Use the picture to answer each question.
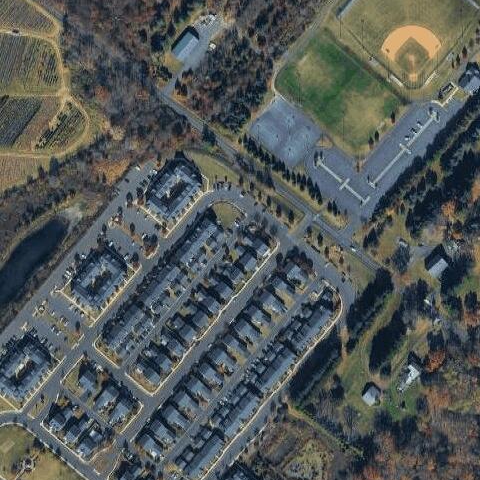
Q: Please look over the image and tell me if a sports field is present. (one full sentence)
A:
Yes, the frame does contain a sports field.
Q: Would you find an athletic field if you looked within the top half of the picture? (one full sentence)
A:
Yes, an athletic field can be seen within the top half of the picture.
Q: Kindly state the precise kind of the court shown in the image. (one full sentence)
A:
Looking closely, the court is a basketball court.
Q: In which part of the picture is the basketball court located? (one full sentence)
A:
You can find the basketball court in the top area of the picture.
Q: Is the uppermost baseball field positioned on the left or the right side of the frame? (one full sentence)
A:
It is on the right.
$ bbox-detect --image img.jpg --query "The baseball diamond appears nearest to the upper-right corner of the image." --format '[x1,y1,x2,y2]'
[338,0,480,88]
